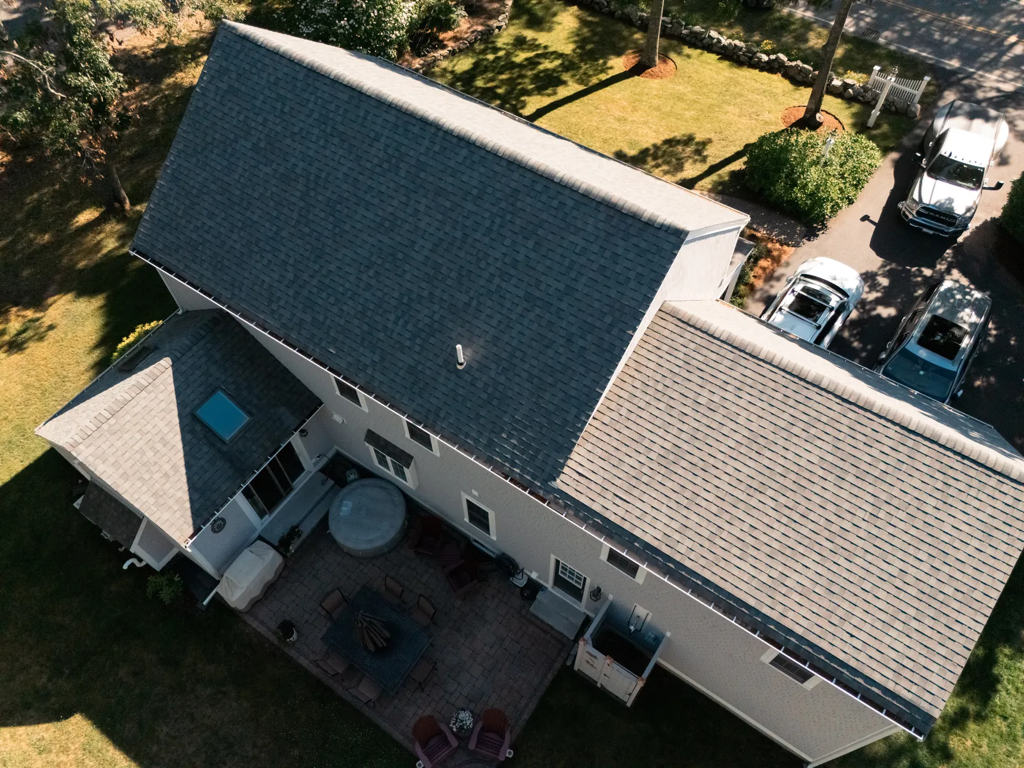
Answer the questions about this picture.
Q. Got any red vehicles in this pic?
No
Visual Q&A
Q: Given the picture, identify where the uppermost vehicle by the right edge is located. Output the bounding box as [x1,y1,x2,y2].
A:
[896,95,1009,242]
